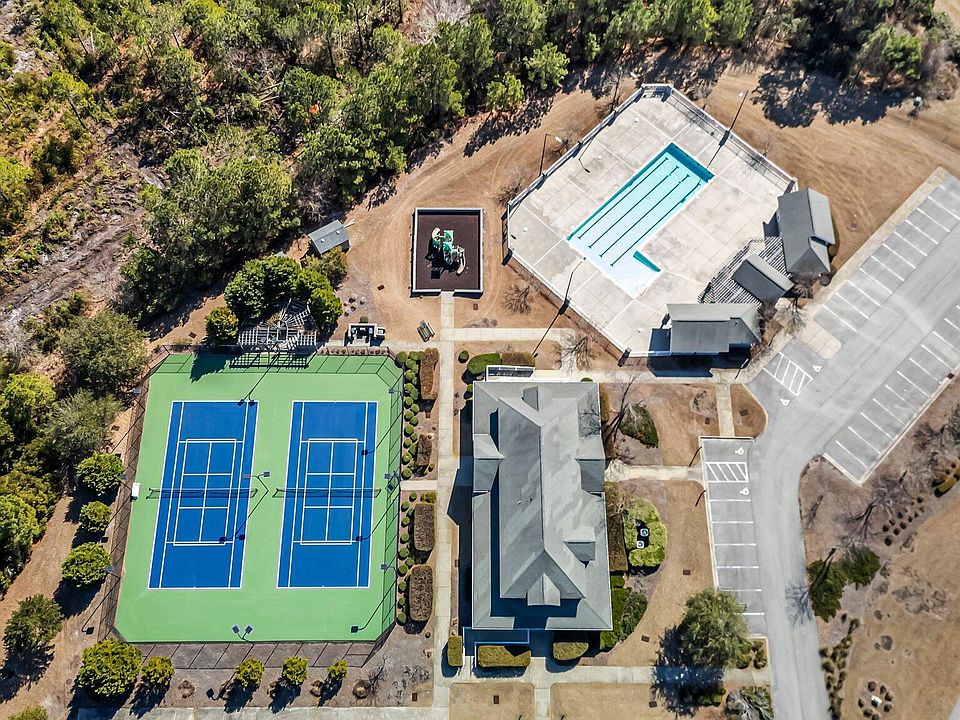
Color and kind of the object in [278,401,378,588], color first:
blue tennis court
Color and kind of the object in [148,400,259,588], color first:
blue tennis court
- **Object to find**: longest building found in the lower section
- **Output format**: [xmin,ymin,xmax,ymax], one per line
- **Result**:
[472,382,613,630]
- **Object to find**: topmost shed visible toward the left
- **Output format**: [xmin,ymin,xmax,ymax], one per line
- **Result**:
[308,219,349,259]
